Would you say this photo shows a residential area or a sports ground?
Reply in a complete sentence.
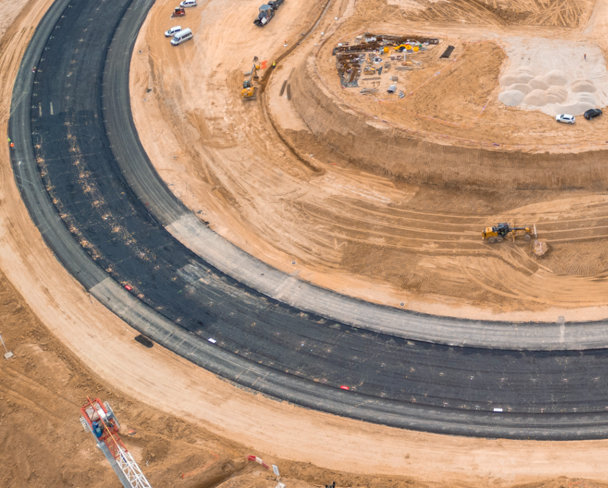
It's a sports ground.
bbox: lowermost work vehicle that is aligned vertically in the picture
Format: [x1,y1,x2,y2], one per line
[240,60,258,100]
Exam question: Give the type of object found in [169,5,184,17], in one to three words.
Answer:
vehicle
